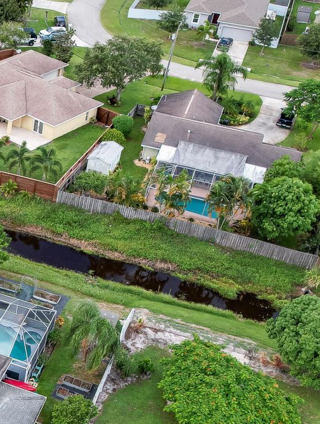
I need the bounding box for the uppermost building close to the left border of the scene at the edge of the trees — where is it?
[0,50,104,142]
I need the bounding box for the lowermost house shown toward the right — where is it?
[136,89,312,188]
